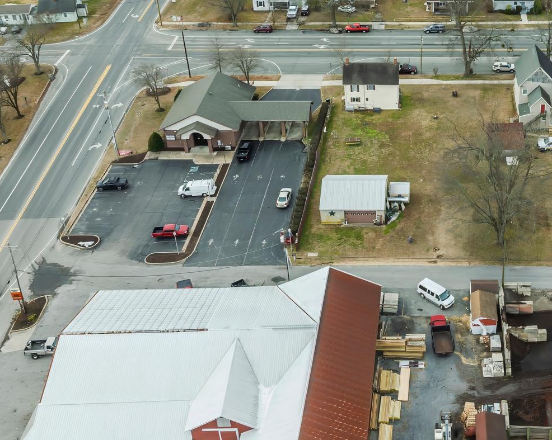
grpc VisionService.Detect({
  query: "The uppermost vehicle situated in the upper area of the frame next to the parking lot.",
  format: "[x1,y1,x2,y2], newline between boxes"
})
[231,138,255,159]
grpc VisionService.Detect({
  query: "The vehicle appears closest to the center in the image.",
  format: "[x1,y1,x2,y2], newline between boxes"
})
[272,185,296,207]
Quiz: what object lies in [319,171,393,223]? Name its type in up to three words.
building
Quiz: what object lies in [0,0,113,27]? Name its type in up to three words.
house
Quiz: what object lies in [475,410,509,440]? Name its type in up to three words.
shed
